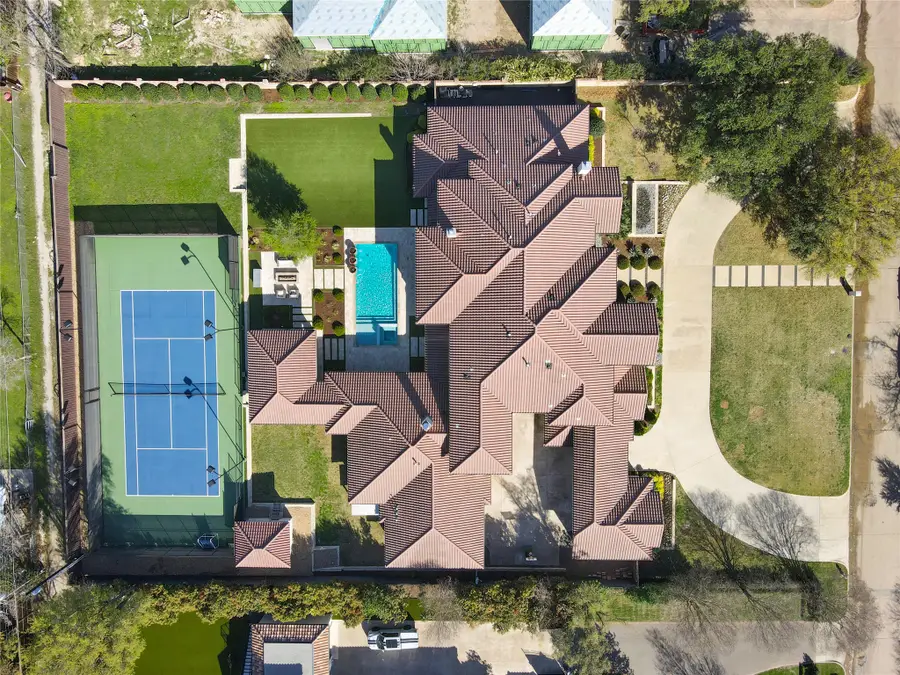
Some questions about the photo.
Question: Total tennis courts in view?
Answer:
1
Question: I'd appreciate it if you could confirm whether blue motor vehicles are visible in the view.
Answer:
No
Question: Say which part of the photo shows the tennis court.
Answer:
left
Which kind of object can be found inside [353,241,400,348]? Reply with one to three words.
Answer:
swimming pool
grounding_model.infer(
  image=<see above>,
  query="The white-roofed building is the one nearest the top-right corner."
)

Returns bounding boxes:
[529,0,612,49]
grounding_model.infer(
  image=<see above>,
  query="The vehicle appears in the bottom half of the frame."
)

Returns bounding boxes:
[368,628,418,653]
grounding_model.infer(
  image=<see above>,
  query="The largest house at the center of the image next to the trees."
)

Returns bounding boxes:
[247,103,664,570]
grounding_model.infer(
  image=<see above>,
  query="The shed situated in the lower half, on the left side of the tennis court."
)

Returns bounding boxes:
[0,465,47,508]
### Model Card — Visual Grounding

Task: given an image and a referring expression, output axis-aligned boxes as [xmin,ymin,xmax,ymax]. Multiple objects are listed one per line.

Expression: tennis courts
[96,236,245,546]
